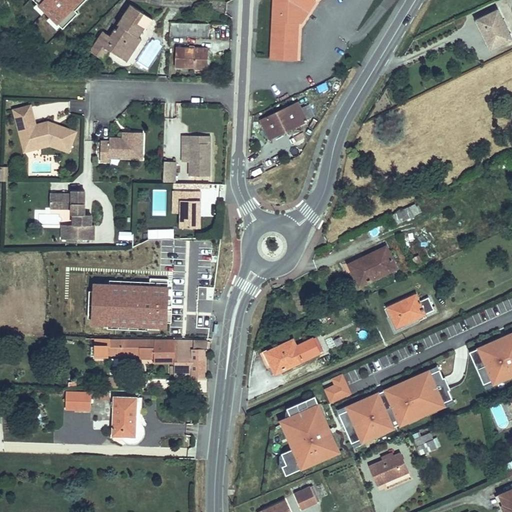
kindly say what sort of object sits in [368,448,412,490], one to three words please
house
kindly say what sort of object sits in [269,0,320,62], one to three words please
building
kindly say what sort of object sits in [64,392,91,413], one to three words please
building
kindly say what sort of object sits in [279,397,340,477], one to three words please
house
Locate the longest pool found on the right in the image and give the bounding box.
[490,402,510,430]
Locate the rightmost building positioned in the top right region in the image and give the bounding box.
[474,10,512,51]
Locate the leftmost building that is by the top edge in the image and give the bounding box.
[34,0,87,43]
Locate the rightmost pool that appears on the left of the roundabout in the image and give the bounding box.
[152,189,168,216]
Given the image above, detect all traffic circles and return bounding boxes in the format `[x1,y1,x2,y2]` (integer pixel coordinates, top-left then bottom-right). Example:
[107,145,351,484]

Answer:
[229,201,318,296]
